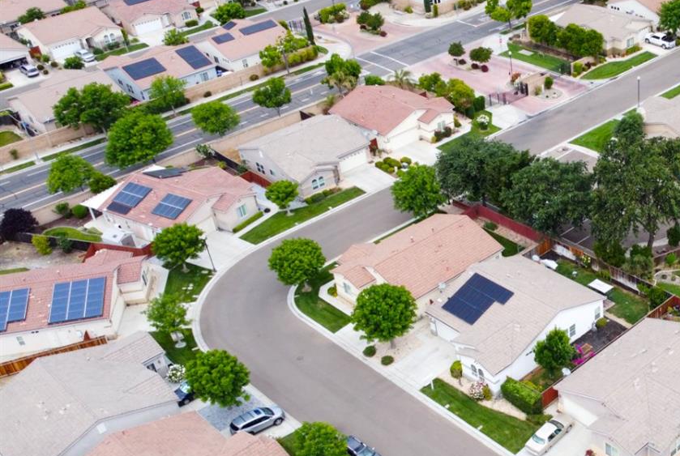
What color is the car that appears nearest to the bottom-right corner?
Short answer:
white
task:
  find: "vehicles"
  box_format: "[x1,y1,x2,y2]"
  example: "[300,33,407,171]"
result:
[343,430,380,456]
[74,46,94,59]
[523,414,573,456]
[225,408,285,436]
[14,58,40,76]
[176,380,198,410]
[659,34,679,49]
